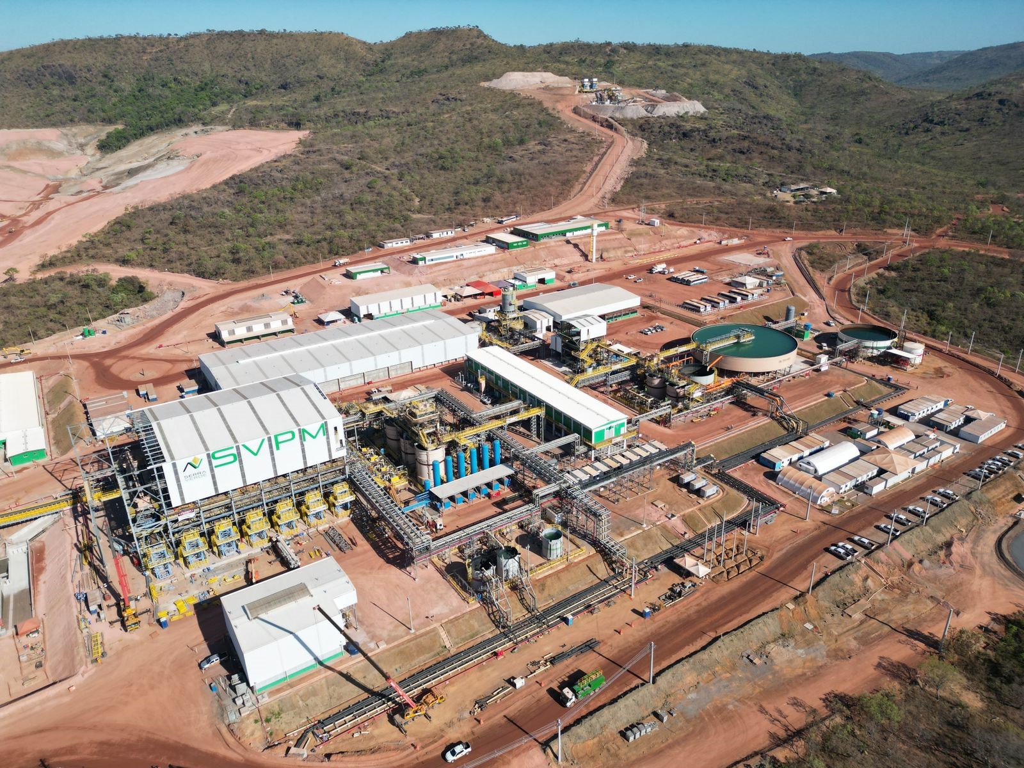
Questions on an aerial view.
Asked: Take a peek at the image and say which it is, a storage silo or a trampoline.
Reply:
storage silo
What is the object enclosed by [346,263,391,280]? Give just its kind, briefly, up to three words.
shed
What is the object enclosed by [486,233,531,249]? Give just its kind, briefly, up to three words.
building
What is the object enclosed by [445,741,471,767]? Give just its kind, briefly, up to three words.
truck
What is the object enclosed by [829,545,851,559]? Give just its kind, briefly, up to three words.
vehicle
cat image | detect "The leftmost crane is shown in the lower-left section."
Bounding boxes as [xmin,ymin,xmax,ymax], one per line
[92,480,155,642]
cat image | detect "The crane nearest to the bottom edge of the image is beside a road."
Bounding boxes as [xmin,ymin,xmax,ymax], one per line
[327,610,448,727]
